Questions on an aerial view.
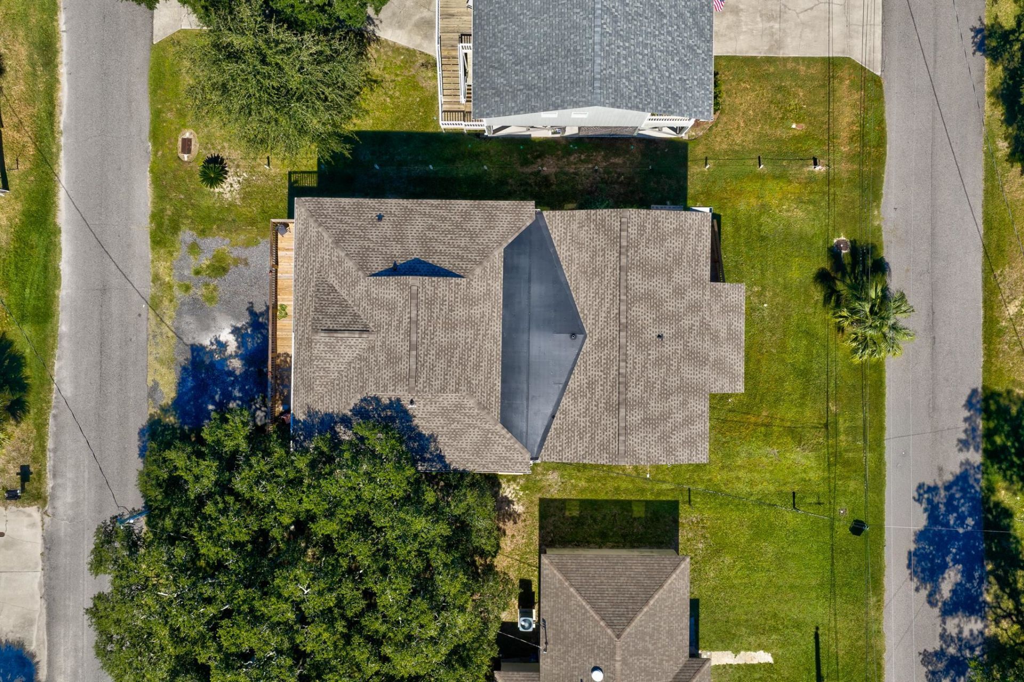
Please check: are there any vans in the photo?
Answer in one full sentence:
No, this view has no van in it.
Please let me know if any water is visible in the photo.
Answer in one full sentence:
No, the scene doesn't show any water.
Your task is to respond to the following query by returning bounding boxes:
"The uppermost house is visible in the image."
[437,0,715,139]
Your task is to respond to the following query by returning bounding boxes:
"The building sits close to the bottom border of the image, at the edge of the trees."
[493,544,712,682]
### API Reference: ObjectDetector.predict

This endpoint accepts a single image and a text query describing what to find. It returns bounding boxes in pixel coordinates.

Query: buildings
[493,544,712,682]
[437,0,715,139]
[267,197,745,476]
